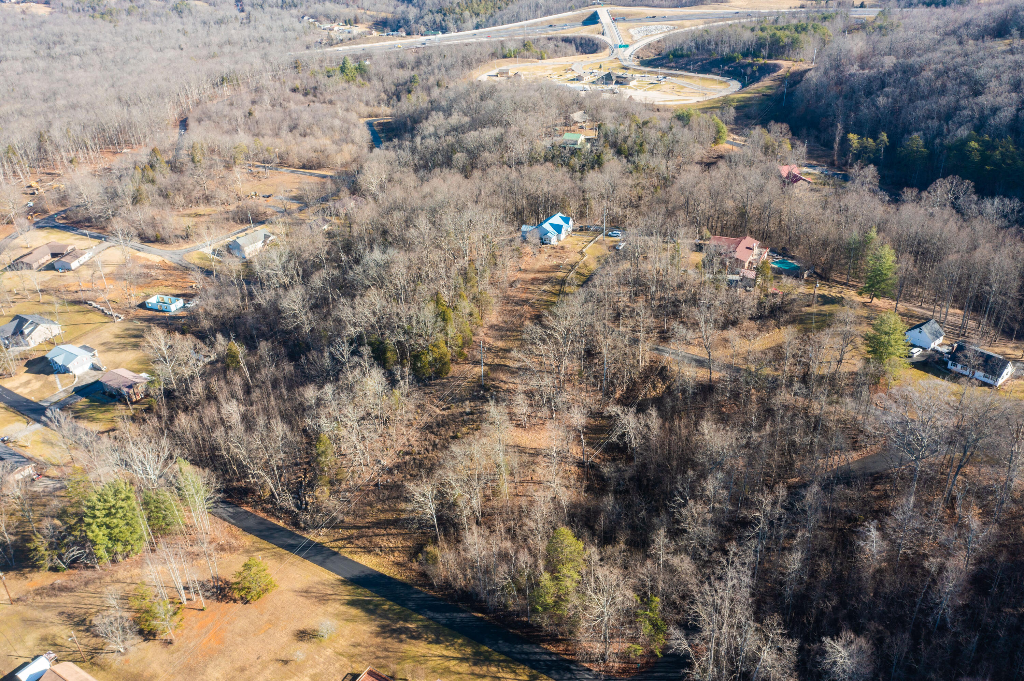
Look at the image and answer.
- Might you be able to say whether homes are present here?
Yes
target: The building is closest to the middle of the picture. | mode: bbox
[520,212,574,248]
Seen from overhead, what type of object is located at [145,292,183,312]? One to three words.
house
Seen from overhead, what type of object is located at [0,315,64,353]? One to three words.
house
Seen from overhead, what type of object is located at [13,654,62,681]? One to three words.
truck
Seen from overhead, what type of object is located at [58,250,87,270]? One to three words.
shed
